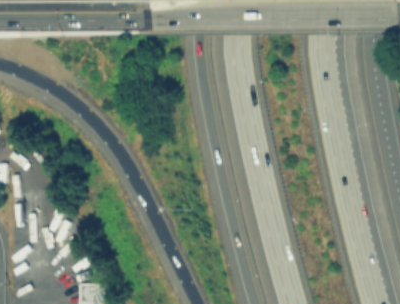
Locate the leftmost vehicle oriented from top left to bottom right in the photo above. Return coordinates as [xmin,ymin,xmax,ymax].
[10,150,34,172]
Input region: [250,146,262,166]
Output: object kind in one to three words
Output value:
vehicle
